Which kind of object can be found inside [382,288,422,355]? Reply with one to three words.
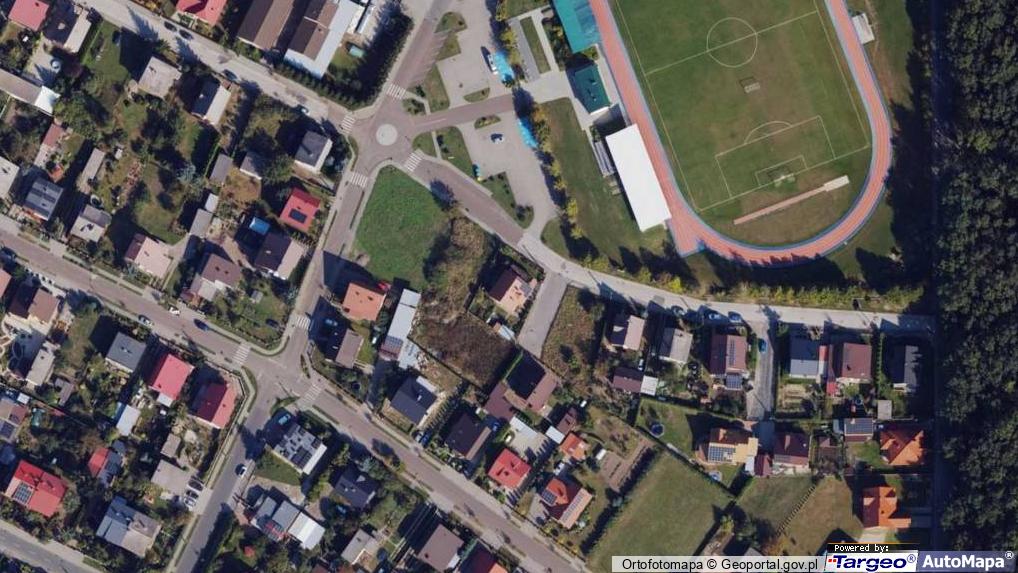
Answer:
building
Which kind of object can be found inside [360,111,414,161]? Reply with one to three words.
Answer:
roundabout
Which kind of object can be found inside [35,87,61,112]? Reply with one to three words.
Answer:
shed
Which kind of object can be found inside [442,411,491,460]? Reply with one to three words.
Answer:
house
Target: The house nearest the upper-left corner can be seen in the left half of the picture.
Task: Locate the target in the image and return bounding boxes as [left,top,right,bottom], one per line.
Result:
[8,0,48,32]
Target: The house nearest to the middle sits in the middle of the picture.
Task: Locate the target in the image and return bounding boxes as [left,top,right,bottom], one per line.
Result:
[487,265,535,310]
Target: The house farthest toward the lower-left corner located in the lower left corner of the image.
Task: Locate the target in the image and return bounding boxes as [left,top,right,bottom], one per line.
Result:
[2,459,69,517]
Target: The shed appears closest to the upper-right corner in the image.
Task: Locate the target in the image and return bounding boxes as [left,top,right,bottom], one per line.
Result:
[852,13,875,44]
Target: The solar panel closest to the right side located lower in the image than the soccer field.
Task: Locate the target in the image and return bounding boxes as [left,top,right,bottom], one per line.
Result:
[844,420,872,434]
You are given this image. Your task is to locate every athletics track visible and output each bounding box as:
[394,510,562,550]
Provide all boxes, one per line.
[585,0,896,273]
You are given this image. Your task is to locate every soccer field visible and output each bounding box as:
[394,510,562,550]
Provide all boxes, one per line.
[608,0,872,249]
